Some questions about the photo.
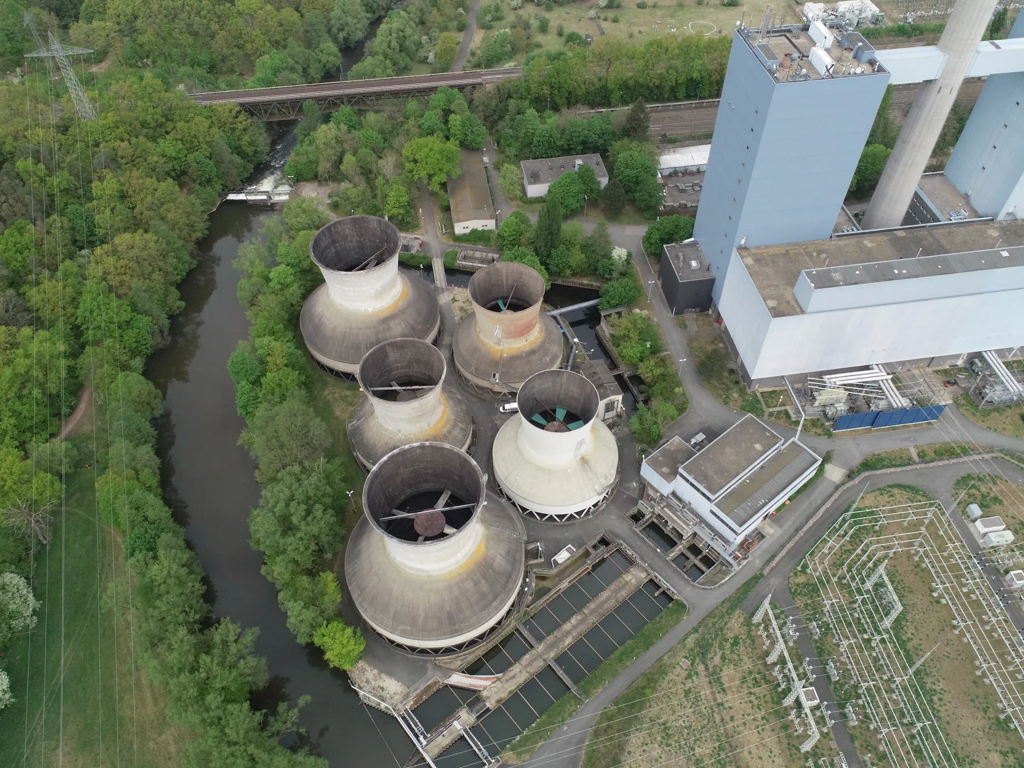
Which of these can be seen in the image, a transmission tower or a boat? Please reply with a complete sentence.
The one in the frame is a transmission tower.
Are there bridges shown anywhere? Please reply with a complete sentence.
Yes, the photo shows a bridge.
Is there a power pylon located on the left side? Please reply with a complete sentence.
Yes, there is a power pylon on the left side.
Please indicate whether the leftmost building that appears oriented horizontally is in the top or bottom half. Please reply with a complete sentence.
Seen from above, the leftmost building that appears oriented horizontally lies in the top half of the view.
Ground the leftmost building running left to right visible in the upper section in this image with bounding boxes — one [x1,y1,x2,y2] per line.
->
[521,153,608,196]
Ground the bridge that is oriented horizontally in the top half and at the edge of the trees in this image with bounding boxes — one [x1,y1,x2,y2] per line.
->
[151,66,530,124]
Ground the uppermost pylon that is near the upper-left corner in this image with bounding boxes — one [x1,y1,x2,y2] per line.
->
[9,12,51,65]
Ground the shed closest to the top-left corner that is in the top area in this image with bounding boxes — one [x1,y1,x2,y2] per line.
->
[445,147,497,236]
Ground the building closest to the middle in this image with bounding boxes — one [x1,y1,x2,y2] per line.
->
[578,360,626,417]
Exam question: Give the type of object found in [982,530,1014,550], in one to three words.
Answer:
shed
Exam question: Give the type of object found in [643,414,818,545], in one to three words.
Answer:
building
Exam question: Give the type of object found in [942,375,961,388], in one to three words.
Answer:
vehicle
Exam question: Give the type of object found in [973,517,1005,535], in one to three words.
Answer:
shed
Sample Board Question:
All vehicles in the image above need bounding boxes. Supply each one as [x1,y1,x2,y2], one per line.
[499,400,518,415]
[942,375,961,388]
